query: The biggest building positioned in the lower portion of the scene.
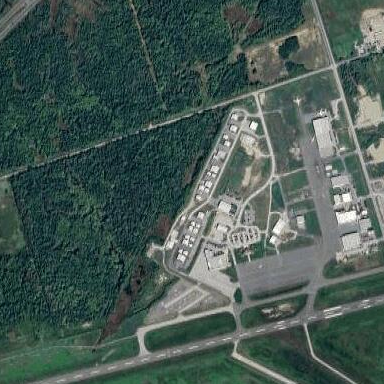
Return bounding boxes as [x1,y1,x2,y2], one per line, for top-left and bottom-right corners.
[206,248,229,269]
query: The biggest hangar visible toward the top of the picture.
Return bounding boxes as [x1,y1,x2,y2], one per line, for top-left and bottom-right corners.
[312,116,337,157]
